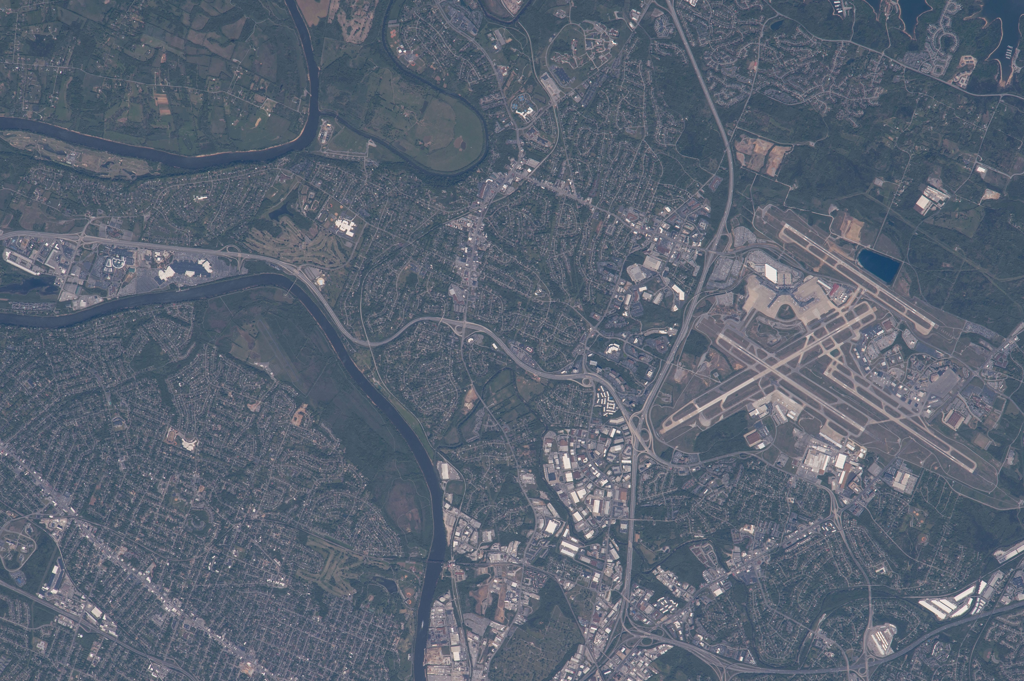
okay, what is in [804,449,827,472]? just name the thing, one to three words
building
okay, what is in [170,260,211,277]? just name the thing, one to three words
building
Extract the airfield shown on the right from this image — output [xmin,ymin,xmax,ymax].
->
[651,208,997,491]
